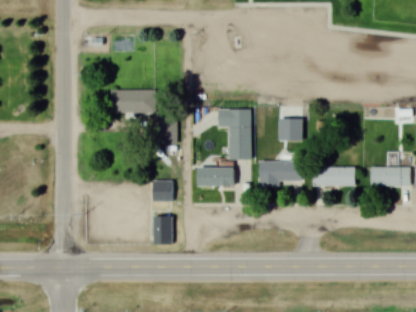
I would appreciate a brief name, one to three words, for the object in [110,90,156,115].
house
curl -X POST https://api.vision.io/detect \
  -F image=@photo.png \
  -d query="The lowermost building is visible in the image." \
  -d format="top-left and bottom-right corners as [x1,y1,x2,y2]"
[154,215,175,244]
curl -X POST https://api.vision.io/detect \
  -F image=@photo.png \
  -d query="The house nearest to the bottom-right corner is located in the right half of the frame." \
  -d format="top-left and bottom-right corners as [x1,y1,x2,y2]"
[371,168,412,187]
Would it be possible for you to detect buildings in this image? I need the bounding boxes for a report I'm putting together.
[110,90,156,115]
[279,118,304,142]
[154,215,175,244]
[371,168,412,187]
[396,108,415,124]
[259,162,306,188]
[219,109,253,160]
[153,181,174,202]
[164,120,178,145]
[310,168,356,188]
[197,168,236,188]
